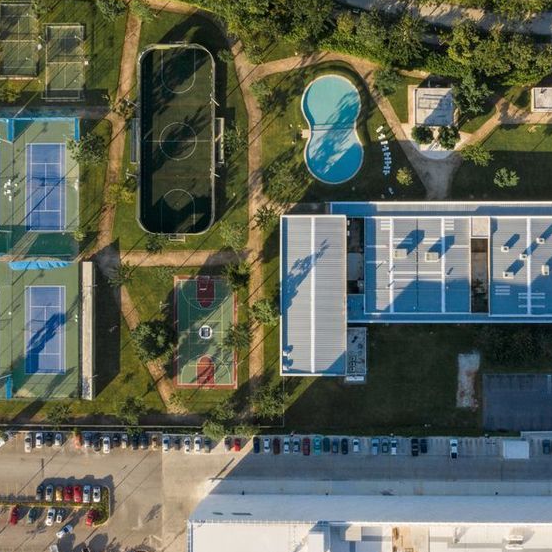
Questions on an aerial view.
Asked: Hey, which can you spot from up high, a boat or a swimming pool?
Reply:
swimming pool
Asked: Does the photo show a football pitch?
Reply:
Yes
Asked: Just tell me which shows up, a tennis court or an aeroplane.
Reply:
tennis court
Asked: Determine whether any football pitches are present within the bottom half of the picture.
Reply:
No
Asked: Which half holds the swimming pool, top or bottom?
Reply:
top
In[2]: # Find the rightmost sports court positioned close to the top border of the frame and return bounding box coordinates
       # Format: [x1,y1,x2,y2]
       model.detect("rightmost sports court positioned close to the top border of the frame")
[42,22,84,100]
